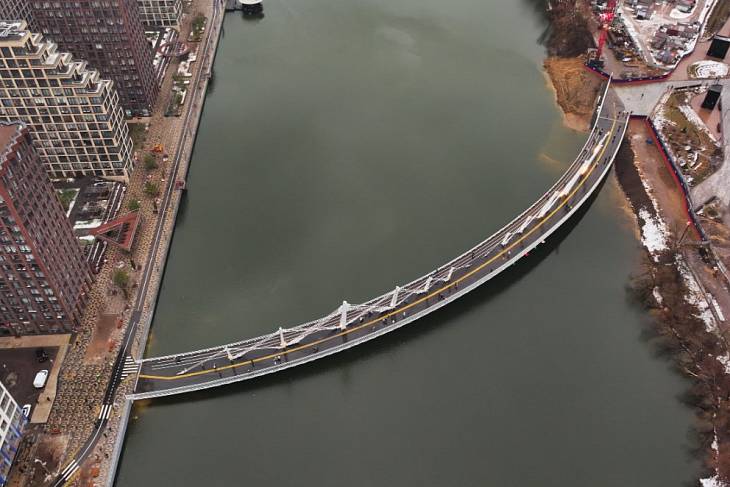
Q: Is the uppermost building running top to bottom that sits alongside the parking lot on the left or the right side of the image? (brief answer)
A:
left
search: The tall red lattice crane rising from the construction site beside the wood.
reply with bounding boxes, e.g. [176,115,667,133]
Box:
[583,0,622,63]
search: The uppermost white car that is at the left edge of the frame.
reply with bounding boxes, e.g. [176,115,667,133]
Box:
[31,369,47,386]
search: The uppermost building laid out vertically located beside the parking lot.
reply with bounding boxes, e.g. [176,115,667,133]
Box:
[0,122,98,339]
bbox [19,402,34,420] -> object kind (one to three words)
car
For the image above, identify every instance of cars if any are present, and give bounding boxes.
[35,348,46,360]
[31,369,47,386]
[19,402,34,420]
